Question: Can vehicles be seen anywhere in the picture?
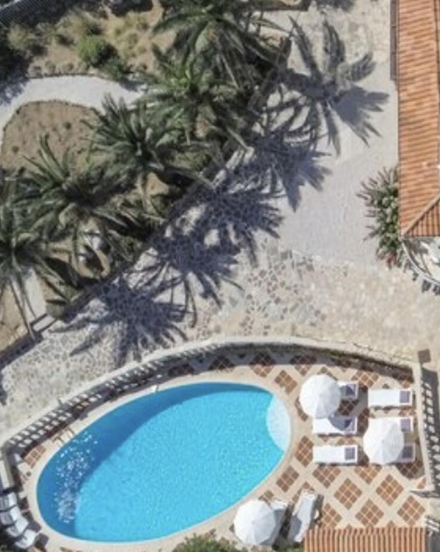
No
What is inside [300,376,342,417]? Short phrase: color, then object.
white umbrella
